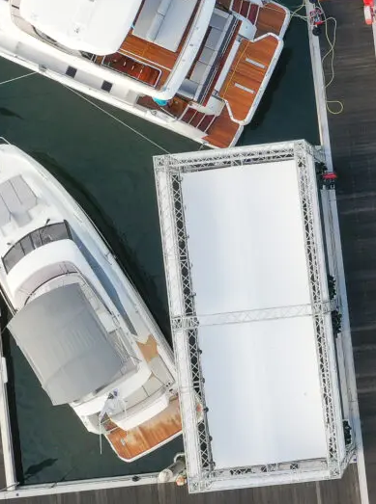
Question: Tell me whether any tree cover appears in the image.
No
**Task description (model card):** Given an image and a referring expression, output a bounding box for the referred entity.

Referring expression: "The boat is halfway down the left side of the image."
[0,136,184,461]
